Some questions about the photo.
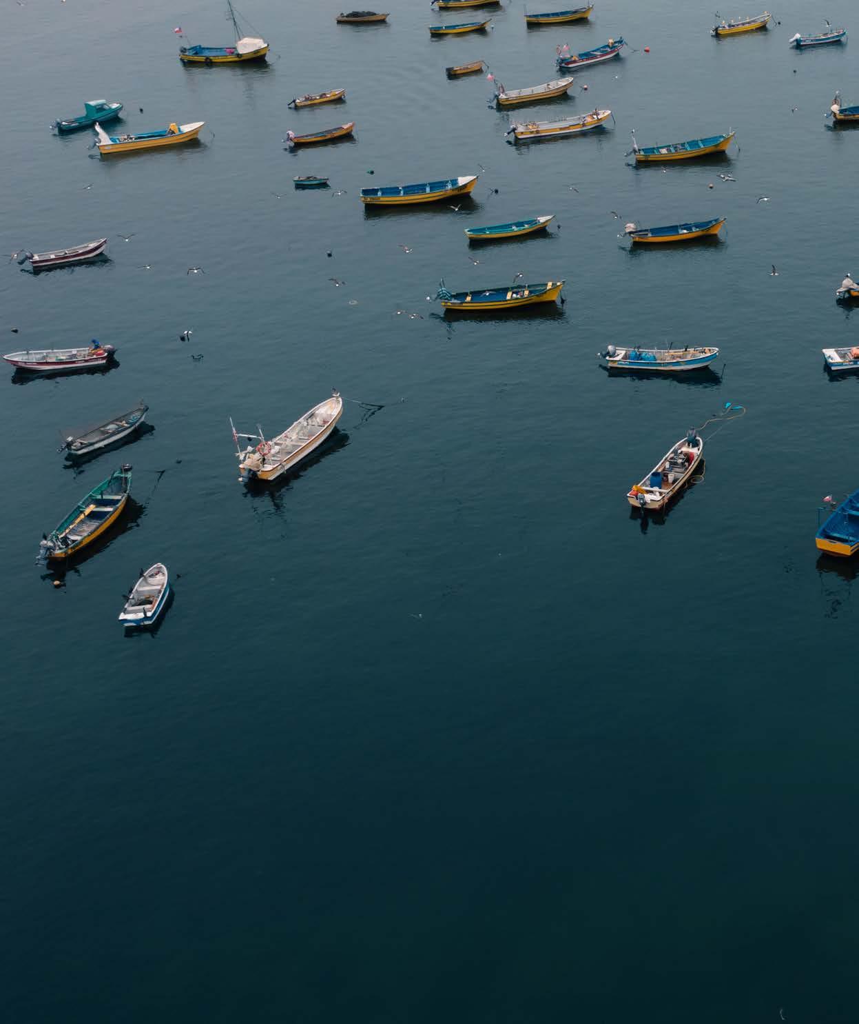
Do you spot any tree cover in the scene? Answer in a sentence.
No, no tree cover is visible.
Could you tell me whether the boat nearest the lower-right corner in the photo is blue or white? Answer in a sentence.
The color of the boat nearest the lower-right corner is blue.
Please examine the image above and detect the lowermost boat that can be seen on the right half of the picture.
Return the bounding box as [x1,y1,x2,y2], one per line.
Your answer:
[815,489,859,558]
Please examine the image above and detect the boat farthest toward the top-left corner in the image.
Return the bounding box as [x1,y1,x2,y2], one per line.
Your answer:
[52,99,123,132]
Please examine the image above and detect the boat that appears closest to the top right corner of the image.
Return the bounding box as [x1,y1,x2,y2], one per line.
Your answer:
[791,28,847,48]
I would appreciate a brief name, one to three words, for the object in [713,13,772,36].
boat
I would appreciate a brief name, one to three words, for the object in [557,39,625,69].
boat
